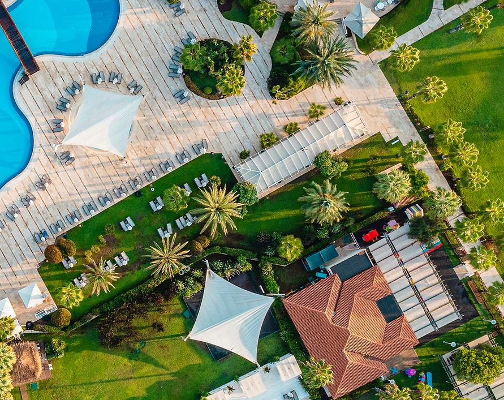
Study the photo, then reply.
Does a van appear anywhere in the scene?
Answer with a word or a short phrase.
No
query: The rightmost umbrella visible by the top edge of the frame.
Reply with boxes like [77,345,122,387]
[340,0,382,41]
